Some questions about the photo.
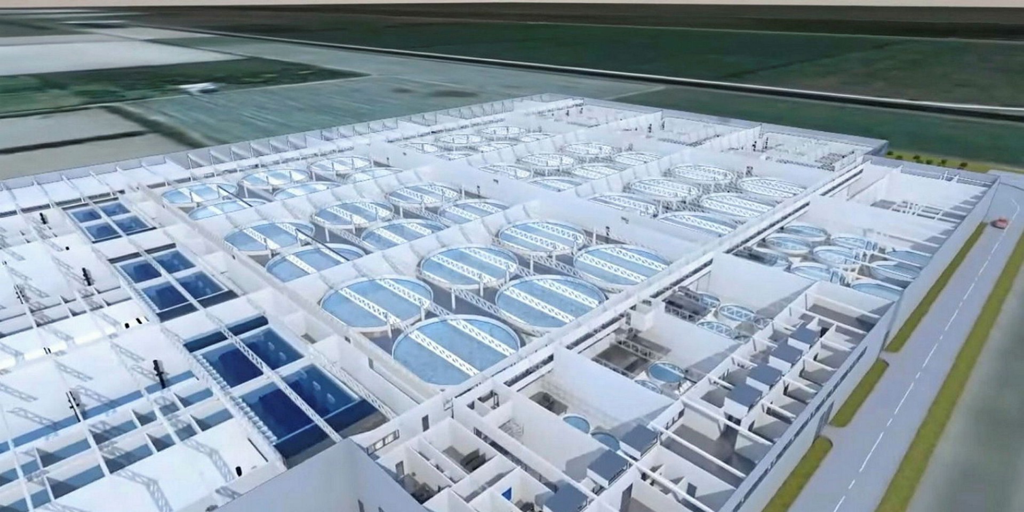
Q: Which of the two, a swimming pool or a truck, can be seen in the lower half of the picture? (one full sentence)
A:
It is a swimming pool that can be seen in the lower half of the picture.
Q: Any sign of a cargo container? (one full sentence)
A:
No, no cargo container is visible in the view.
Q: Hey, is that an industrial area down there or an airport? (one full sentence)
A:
This looks like an industrial area.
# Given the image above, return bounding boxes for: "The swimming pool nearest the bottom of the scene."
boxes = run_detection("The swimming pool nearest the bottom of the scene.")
[188,322,365,472]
